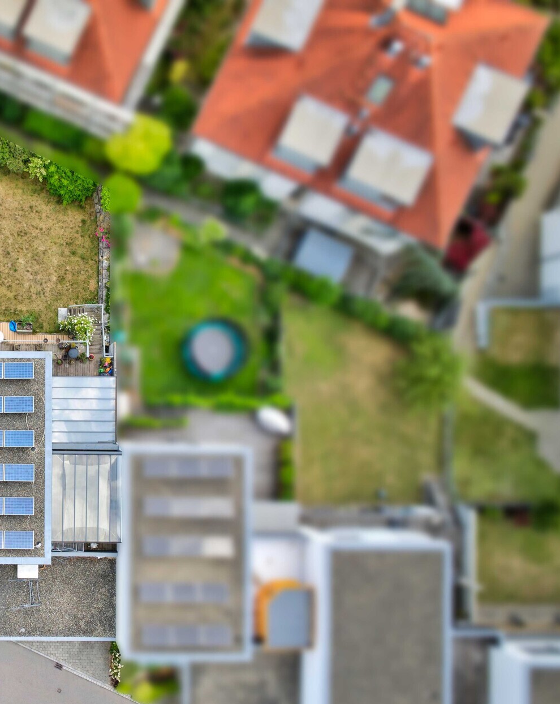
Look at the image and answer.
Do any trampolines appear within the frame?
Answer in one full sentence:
Yes, I can see a trampoline in this picture.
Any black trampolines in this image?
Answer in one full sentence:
No, this view has no black trampoline in it.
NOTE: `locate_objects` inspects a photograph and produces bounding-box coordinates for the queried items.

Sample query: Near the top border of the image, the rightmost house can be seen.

[191,0,548,252]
